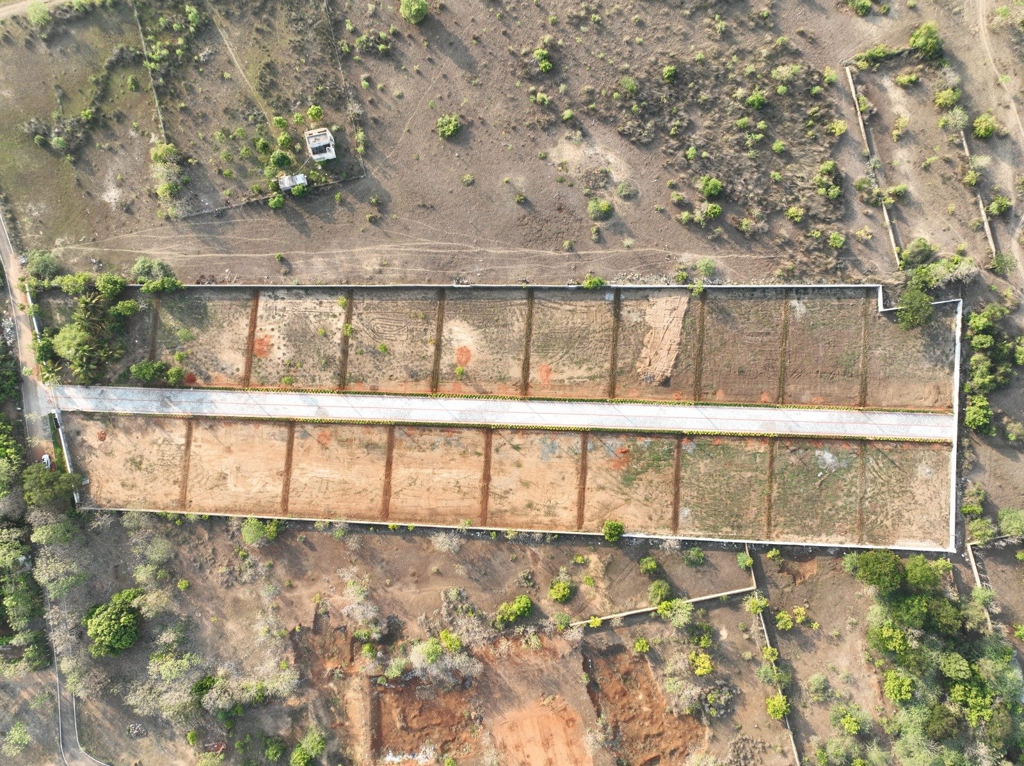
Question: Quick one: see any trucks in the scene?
No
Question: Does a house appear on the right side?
No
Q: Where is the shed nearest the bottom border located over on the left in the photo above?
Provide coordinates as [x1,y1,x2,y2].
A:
[278,173,309,192]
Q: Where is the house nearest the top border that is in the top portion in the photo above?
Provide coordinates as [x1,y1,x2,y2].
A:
[305,125,337,162]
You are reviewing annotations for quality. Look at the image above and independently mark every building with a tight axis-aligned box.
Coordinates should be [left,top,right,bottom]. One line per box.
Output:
[278,173,309,192]
[305,125,337,162]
